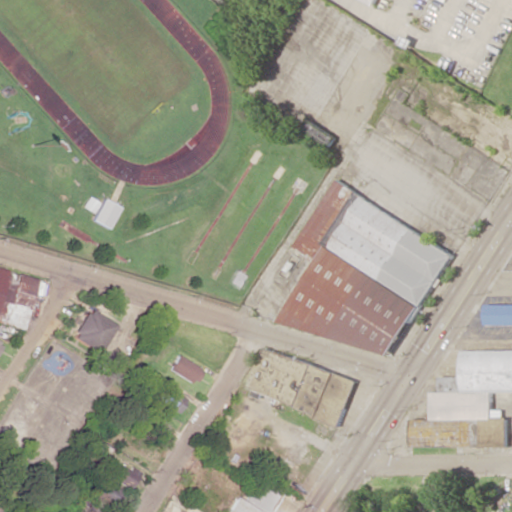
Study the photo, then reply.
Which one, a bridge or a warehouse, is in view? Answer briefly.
warehouse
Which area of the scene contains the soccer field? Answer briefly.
top left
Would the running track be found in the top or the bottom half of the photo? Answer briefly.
top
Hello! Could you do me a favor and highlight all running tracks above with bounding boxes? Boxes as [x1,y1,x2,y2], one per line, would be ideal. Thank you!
[0,0,231,187]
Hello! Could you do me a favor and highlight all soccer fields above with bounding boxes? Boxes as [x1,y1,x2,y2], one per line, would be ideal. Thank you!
[0,0,210,164]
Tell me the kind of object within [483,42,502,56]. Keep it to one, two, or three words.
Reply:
vehicle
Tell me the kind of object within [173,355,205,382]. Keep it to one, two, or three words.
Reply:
house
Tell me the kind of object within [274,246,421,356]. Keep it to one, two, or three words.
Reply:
building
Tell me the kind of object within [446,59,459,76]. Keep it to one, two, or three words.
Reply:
vehicle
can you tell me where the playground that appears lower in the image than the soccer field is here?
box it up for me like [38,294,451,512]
[42,352,75,376]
